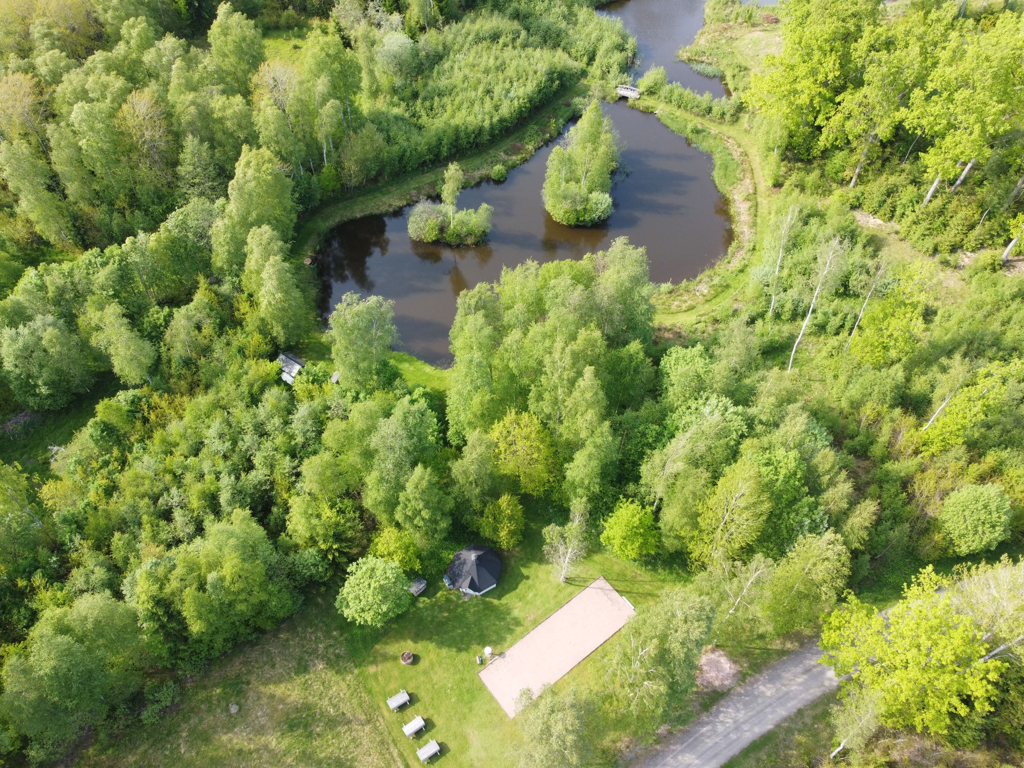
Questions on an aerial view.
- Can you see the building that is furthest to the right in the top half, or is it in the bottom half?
bottom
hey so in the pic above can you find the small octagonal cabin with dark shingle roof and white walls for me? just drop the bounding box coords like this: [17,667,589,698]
[448,544,501,603]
